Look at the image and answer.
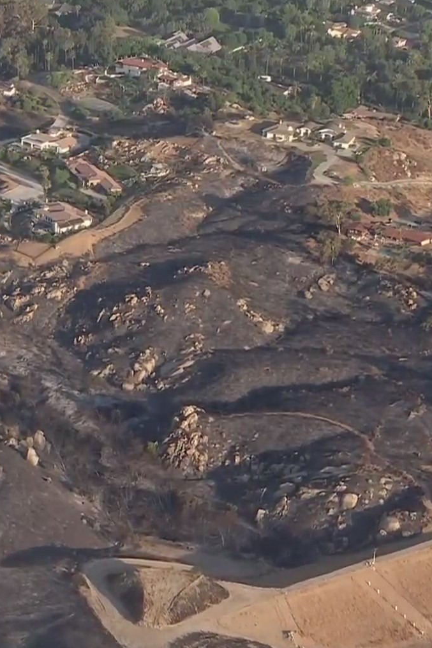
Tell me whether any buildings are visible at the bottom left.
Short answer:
No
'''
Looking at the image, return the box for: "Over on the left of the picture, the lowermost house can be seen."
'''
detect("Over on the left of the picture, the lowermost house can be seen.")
[37,199,93,236]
